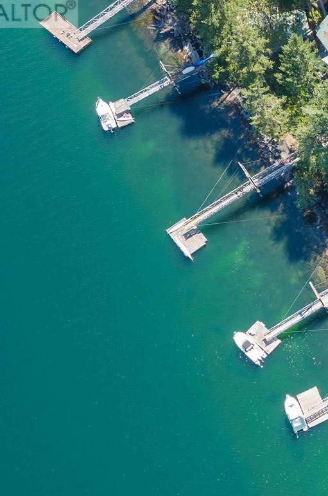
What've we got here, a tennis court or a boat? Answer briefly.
boat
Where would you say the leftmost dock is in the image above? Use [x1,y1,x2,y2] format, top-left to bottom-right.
[39,12,92,54]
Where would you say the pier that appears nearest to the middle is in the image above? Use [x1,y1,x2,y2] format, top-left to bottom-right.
[166,218,209,255]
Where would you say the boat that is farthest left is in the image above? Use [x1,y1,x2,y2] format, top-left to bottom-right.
[95,98,117,132]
